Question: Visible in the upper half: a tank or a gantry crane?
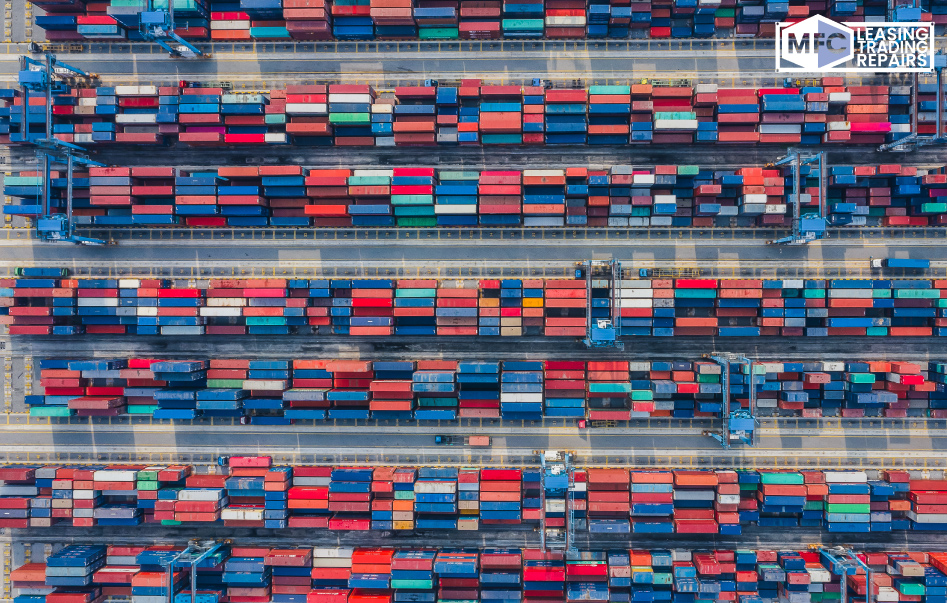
gantry crane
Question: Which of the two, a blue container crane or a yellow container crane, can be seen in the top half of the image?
blue container crane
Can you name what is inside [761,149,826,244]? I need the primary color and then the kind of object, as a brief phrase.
blue container crane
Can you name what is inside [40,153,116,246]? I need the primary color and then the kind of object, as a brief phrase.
blue container crane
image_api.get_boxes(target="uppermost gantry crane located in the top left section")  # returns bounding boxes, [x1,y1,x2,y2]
[144,0,210,59]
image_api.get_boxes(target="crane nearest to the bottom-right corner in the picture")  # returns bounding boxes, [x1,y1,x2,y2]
[805,543,873,603]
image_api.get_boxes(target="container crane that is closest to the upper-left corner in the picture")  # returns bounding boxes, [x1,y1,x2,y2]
[19,55,96,156]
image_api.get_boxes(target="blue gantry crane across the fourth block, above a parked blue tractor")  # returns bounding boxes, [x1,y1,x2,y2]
[571,257,621,348]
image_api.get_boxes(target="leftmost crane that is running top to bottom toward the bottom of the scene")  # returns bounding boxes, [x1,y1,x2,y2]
[529,449,575,553]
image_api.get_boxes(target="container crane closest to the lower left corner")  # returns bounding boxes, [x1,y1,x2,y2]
[162,538,229,603]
